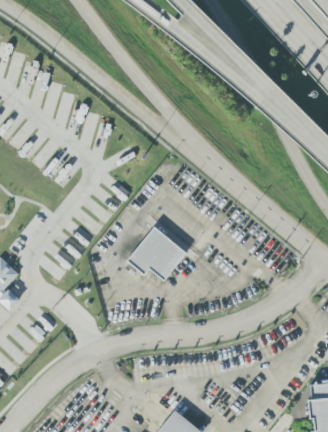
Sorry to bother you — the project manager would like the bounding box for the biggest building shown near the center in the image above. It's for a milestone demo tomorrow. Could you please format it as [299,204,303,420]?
[128,227,186,280]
